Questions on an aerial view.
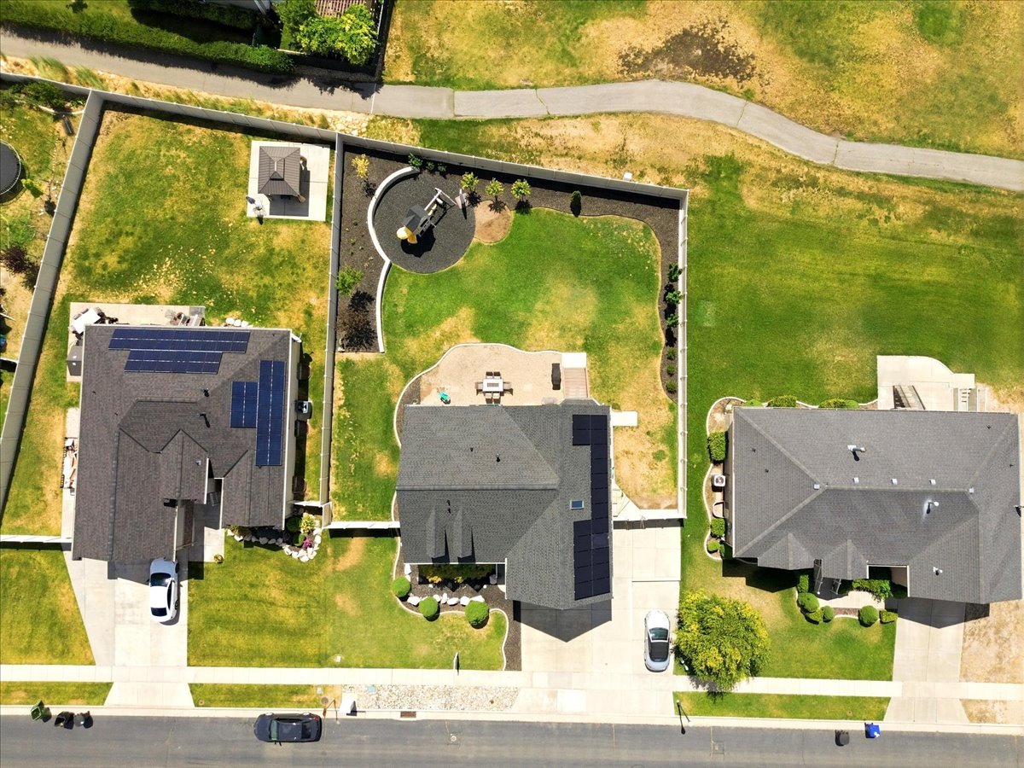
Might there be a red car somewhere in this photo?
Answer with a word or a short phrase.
No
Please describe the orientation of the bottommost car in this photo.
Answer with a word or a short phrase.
from left to right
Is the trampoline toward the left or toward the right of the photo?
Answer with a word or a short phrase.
left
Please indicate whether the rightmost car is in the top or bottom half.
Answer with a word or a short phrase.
bottom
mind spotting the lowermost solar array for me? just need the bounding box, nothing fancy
[573,415,611,598]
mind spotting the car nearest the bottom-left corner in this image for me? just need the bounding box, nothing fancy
[147,561,182,624]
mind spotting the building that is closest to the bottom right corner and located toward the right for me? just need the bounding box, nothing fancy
[724,405,1023,604]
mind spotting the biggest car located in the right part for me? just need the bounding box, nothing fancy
[642,606,673,672]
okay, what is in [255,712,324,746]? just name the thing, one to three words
car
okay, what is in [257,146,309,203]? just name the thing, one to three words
gazebo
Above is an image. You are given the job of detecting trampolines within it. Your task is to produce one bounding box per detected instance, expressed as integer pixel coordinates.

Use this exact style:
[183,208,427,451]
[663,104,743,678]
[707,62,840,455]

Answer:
[0,142,29,199]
